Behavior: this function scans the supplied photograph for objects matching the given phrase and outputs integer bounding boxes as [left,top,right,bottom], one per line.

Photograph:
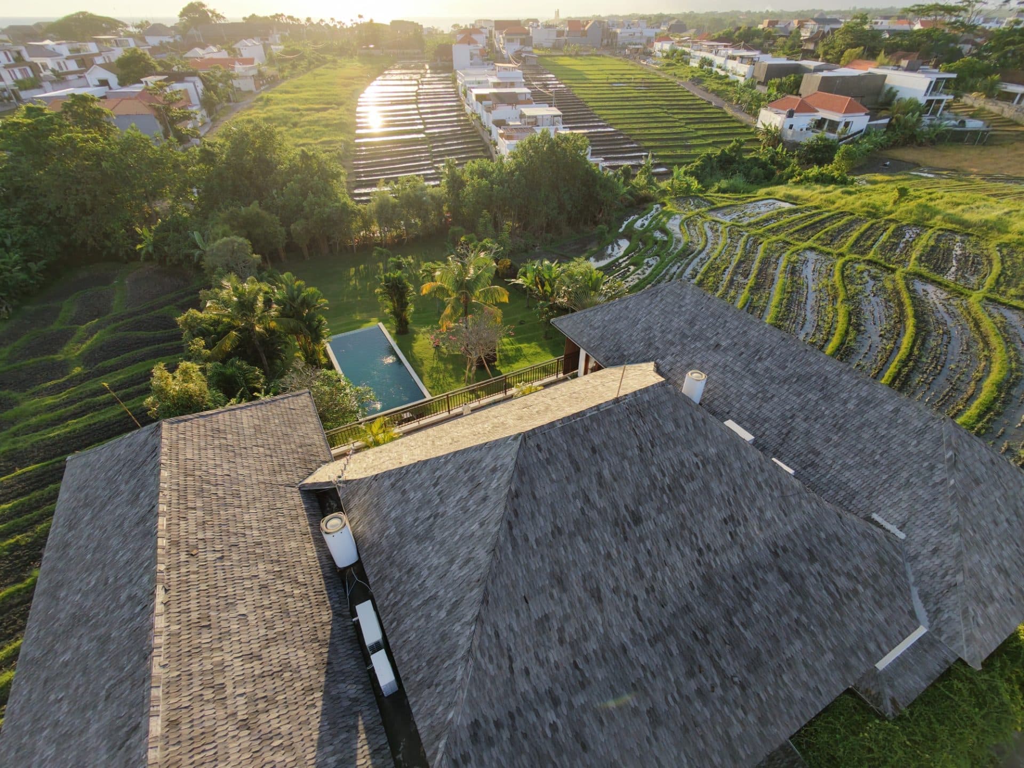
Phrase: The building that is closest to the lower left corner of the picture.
[0,392,387,768]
